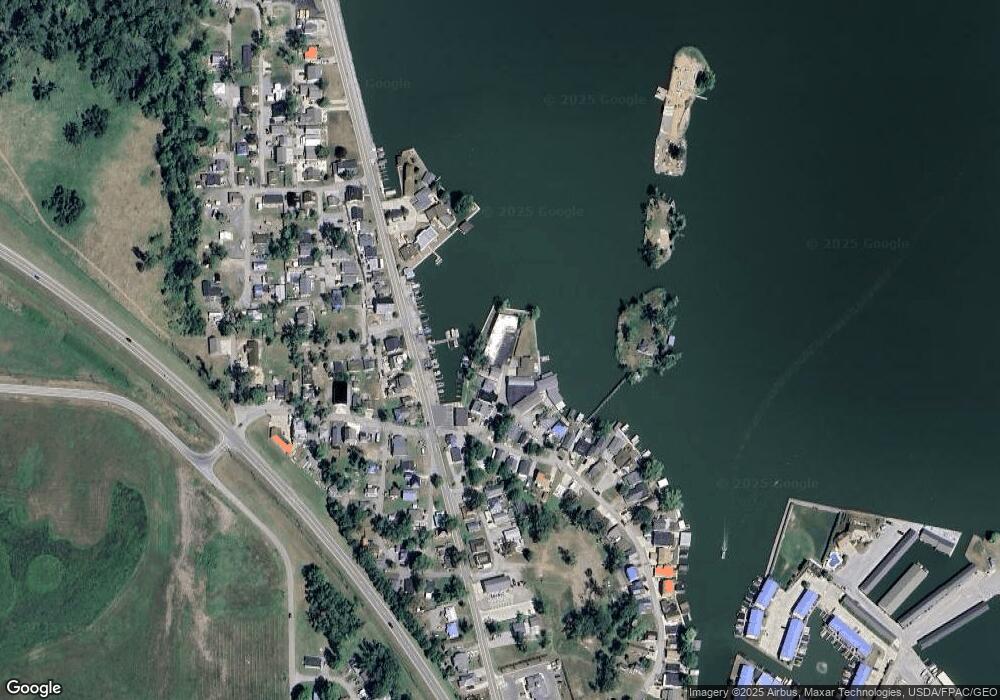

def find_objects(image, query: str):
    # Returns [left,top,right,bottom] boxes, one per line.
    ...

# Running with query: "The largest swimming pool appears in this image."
[827,554,843,569]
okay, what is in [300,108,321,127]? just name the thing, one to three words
house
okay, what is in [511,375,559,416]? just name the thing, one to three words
building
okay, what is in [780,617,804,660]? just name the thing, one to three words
shed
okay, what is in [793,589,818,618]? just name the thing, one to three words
shed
